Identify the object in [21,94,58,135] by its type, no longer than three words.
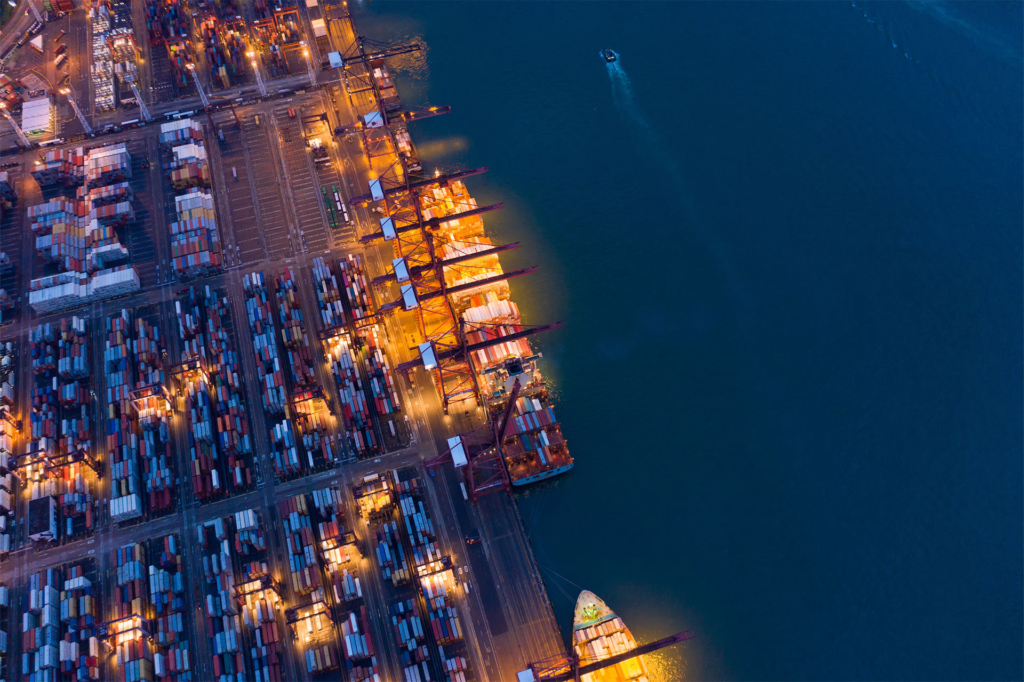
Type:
building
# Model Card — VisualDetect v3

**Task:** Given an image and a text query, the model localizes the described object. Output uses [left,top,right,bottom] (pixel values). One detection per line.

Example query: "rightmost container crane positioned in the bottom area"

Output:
[515,629,695,682]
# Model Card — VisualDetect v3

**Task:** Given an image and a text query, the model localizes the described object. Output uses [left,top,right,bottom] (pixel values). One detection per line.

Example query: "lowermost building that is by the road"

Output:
[28,494,60,544]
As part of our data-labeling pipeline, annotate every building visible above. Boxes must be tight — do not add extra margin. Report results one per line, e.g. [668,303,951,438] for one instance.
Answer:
[28,494,60,544]
[119,88,137,105]
[21,94,58,135]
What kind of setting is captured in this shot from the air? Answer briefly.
port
